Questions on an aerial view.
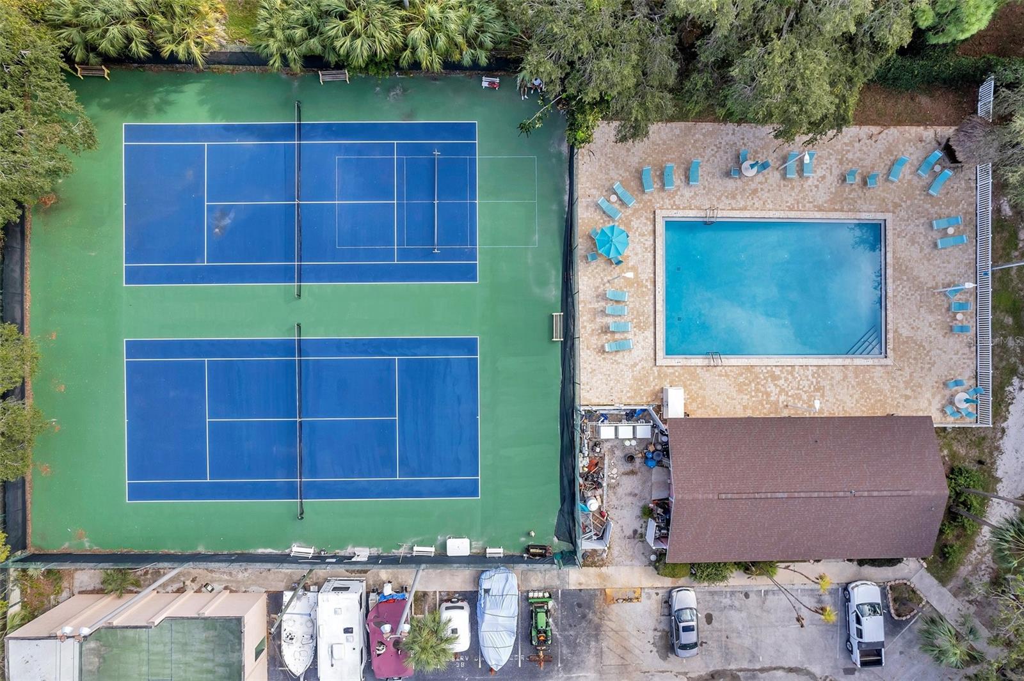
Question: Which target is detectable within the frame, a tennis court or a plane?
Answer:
tennis court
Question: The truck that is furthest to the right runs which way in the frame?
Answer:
up and down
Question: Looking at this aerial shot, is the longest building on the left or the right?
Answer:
right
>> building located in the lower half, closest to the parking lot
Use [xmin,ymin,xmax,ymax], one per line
[663,418,948,562]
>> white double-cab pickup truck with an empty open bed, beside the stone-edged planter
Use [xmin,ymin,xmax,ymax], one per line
[842,580,883,668]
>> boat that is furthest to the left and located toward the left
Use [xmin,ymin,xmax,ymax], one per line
[279,579,319,681]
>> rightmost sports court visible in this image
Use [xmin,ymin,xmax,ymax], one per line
[336,156,537,248]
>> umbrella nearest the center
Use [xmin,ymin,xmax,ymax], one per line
[596,226,628,258]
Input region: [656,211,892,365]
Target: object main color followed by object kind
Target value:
blue swimming pool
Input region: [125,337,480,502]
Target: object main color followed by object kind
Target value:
blue tennis court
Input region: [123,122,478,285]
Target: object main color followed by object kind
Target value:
blue tennis court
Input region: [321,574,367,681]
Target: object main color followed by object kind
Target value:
white camper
